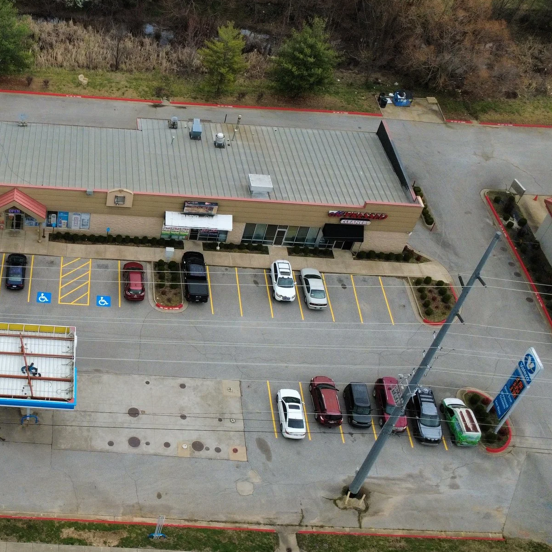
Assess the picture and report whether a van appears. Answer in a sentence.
Yes, there's a van here.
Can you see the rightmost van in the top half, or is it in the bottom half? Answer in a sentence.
Seen from above, the rightmost van lies in the bottom half of the view.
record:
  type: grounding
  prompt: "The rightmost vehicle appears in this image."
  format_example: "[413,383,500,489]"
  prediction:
[437,396,481,445]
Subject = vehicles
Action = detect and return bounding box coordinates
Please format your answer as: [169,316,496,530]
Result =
[273,260,301,305]
[308,373,346,424]
[273,384,307,436]
[370,374,408,431]
[3,253,26,291]
[181,252,208,302]
[121,262,145,304]
[437,396,481,445]
[340,373,375,429]
[408,387,444,445]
